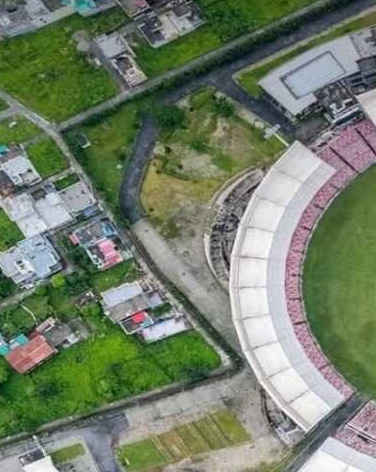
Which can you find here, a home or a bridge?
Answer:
home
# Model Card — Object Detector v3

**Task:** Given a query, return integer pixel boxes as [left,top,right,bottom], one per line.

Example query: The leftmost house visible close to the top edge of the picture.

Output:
[0,4,38,40]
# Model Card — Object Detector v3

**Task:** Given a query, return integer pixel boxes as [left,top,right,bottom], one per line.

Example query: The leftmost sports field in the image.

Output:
[118,437,171,472]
